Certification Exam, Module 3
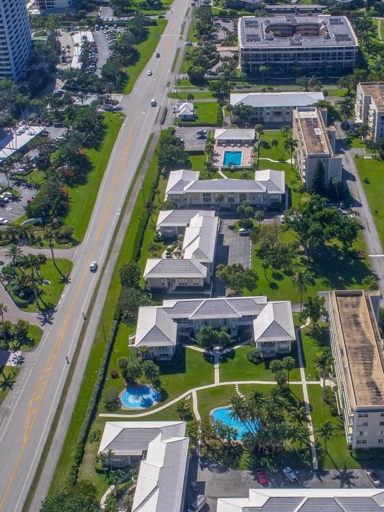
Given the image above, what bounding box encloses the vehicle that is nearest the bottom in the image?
[186,492,206,512]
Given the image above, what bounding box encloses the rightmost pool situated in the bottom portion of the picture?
[209,404,262,442]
